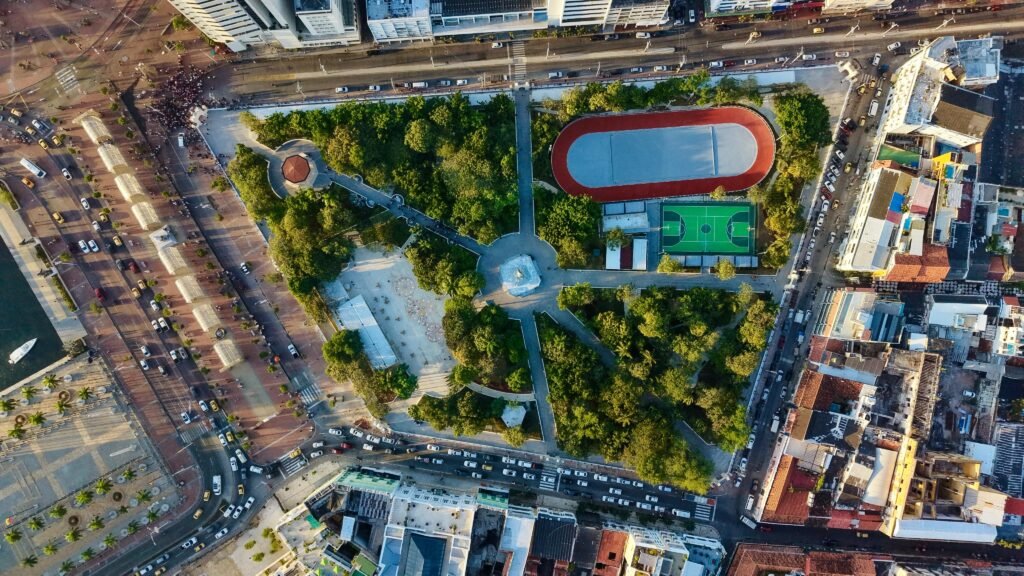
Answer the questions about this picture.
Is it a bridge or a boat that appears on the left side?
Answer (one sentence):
You can see a boat on the left side.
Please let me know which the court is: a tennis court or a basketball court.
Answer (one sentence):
The court in the image is a basketball court.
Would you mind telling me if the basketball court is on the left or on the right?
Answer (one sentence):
The basketball court appears in the right half of the scene.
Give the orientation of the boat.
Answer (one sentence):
The boat is laid out on a diagonal.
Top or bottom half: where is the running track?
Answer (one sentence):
The running track is in the top half of the image.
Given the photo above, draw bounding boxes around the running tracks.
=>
[552,104,777,203]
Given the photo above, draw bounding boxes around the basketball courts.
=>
[660,202,757,257]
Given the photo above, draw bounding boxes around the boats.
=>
[7,339,38,363]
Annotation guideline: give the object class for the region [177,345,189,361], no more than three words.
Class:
vehicle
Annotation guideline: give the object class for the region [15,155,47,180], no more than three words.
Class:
bus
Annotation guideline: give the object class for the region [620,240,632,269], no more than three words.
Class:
shed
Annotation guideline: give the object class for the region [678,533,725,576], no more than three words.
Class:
building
